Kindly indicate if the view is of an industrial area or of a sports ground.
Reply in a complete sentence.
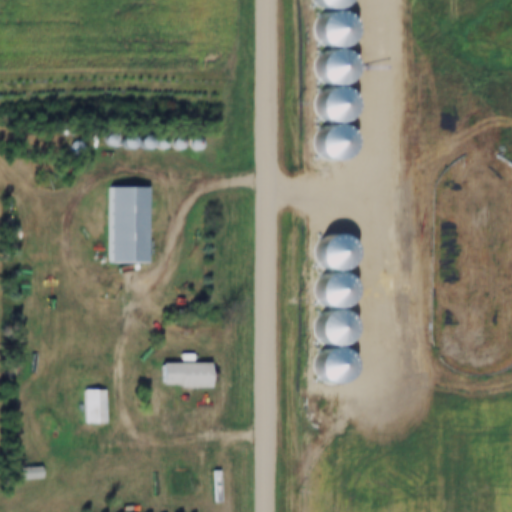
What you see here is an industrial area.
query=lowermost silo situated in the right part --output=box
[316,346,363,385]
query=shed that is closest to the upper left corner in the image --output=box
[109,187,152,263]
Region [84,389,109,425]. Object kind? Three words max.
shed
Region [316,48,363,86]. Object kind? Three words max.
silo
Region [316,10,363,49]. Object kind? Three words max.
silo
